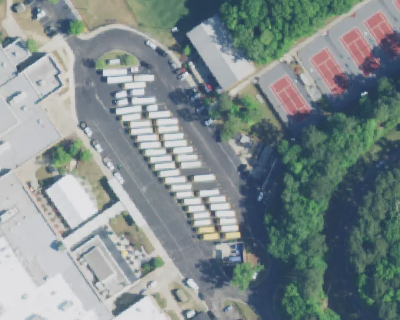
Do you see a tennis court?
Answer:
Yes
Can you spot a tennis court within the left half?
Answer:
No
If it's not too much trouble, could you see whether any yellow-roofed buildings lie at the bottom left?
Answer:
No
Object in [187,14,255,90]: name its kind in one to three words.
building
